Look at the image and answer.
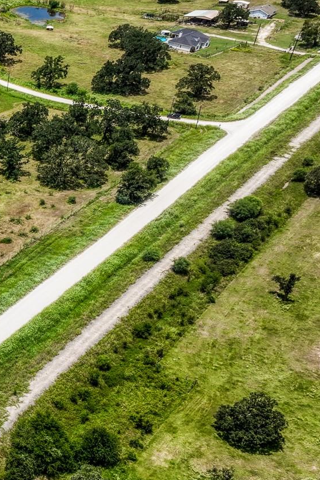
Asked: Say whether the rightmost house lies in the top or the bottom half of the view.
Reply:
top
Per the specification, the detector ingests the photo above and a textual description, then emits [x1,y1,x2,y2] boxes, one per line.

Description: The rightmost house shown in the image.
[246,2,278,24]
